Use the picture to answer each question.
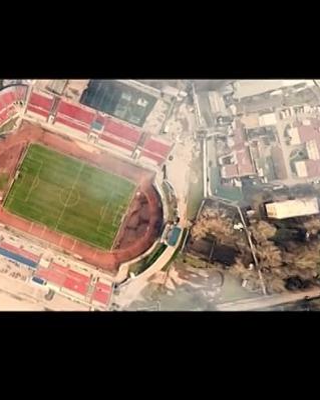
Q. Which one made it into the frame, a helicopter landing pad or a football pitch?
football pitch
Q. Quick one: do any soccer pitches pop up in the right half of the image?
No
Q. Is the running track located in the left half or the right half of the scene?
left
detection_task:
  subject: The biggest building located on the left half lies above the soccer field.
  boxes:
[80,80,158,128]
